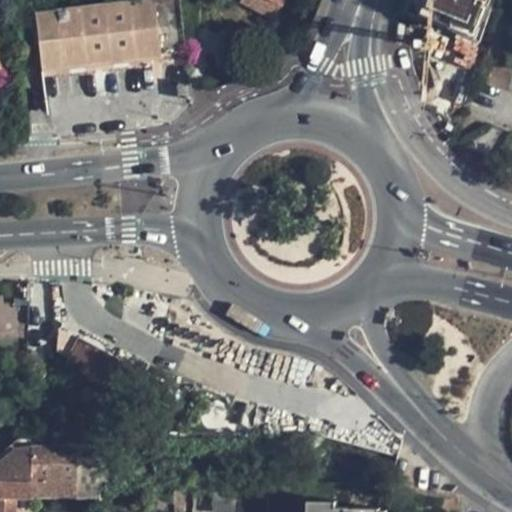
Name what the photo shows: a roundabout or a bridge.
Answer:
roundabout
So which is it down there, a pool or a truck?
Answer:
truck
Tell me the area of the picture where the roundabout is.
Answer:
center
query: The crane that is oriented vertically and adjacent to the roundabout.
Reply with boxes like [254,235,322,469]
[419,0,448,104]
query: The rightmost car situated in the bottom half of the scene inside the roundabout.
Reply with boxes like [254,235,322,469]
[288,314,310,333]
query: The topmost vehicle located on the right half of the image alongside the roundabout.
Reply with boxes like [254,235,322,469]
[306,40,328,72]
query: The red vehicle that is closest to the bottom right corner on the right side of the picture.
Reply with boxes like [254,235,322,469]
[358,371,378,390]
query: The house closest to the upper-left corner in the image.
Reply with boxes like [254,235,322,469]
[35,0,162,74]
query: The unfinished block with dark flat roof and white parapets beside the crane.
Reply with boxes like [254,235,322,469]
[430,0,492,38]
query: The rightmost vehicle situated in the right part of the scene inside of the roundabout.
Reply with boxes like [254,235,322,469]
[388,182,408,200]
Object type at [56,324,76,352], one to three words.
shed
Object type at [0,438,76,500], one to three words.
house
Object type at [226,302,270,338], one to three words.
truck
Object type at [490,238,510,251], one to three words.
vehicle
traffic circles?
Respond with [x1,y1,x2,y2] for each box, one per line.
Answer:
[170,83,426,364]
